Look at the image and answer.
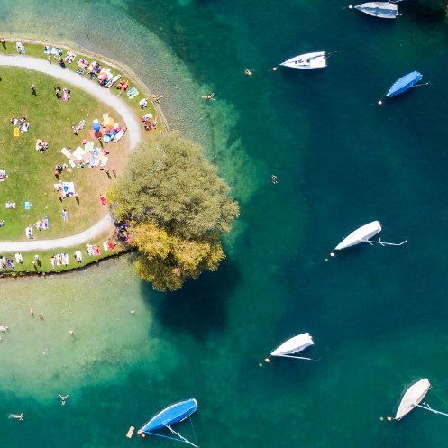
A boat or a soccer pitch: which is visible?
boat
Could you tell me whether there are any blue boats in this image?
Yes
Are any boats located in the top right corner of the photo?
Yes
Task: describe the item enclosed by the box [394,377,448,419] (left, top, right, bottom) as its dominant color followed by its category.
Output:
white boat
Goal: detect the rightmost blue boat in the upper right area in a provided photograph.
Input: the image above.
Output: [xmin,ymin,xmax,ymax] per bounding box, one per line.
[386,68,429,95]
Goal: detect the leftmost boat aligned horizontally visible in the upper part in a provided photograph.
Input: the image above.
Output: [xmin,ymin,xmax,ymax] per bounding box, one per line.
[280,52,339,70]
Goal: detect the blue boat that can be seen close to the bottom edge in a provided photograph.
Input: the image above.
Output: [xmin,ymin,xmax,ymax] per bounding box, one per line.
[142,396,204,442]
